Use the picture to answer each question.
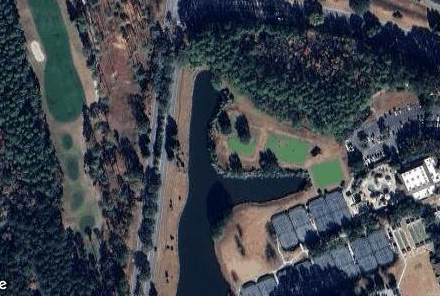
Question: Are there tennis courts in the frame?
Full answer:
Yes, the image includes a tennis court.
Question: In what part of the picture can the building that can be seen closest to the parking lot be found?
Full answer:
The building that can be seen closest to the parking lot appears toward the right of the photo.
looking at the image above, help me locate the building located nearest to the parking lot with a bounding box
[401,157,440,198]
